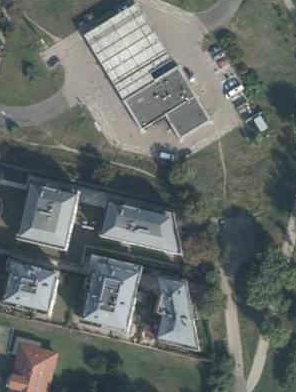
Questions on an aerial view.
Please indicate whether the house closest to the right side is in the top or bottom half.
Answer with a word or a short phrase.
bottom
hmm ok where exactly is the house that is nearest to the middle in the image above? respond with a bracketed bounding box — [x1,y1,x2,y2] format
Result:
[99,202,181,256]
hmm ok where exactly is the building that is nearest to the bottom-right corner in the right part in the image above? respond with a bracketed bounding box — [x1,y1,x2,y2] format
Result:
[158,278,200,350]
